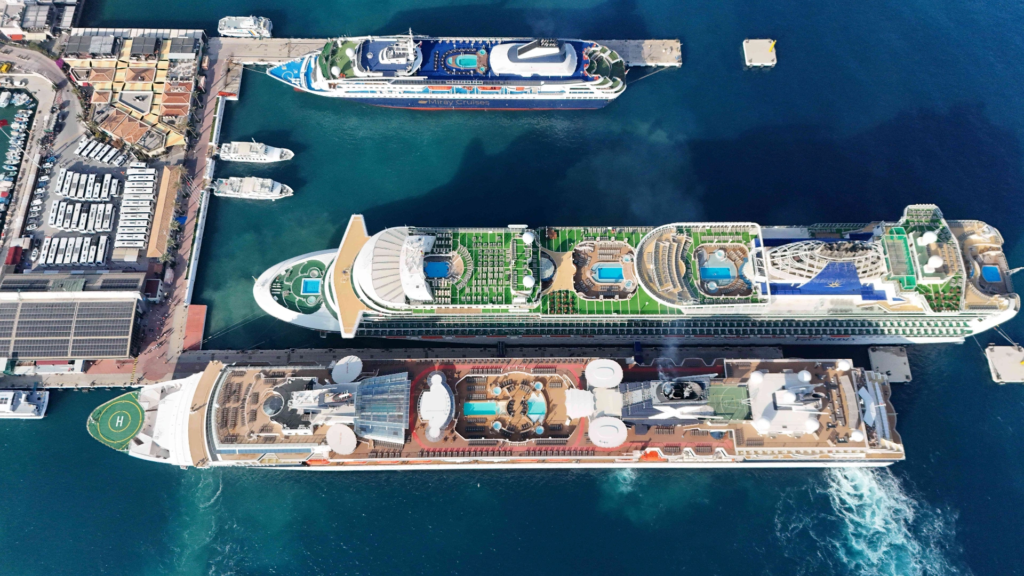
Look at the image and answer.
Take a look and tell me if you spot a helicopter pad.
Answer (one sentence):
Yes, I can see a helicopter pad in this picture.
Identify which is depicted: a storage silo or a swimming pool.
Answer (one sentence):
Of the two, only a swimming pool appears.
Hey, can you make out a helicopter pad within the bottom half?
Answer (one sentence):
Yes, a helicopter pad can be seen within the bottom half.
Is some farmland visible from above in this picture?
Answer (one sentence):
No, there's no farmland in this view.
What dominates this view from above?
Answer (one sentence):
The scene is dominated by water.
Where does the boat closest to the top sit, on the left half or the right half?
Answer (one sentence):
The boat closest to the top sits on the left side.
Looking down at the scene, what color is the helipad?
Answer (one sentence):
From above, the helipad appears green.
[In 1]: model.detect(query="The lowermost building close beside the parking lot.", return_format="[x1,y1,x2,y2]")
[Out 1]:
[0,301,145,364]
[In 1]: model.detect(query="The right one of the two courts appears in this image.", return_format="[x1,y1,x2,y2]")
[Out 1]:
[878,227,916,291]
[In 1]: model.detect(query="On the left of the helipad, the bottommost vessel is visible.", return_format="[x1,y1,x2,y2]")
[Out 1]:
[0,382,51,420]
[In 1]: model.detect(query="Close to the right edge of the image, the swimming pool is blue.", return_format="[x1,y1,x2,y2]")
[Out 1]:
[981,264,1003,284]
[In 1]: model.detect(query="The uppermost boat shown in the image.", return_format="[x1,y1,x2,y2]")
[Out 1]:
[218,14,272,38]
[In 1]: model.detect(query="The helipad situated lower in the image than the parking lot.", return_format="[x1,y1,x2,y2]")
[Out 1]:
[87,392,148,453]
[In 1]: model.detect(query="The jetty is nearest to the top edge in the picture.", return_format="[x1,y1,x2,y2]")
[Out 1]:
[231,38,684,68]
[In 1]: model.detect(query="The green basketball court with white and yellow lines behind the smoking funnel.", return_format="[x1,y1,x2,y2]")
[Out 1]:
[710,384,750,420]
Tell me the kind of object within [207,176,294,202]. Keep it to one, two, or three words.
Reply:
boat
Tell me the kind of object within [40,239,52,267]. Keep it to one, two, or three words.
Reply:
vehicle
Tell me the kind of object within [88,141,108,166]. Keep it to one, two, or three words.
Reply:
bus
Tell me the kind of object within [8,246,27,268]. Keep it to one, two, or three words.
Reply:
shed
